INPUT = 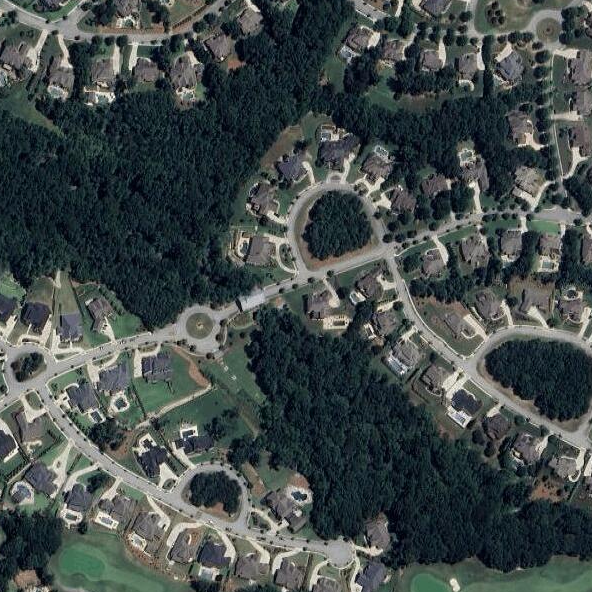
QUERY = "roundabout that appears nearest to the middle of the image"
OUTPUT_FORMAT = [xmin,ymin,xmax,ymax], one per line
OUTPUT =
[180,305,223,348]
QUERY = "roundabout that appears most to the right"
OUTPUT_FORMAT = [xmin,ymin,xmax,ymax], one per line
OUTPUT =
[529,12,568,48]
